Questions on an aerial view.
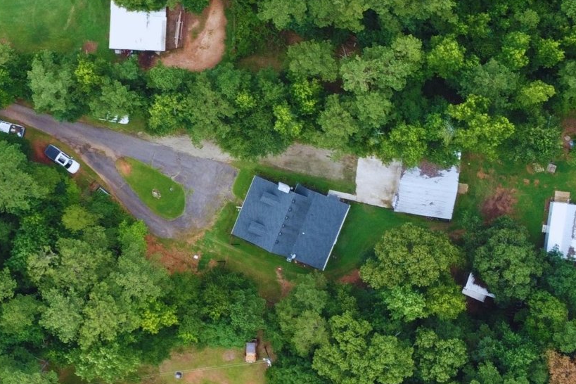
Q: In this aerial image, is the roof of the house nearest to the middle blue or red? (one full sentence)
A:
The roof of the house nearest to the middle looks blue in the image.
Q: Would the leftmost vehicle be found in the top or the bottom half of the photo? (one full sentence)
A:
You can find the leftmost vehicle in the top half.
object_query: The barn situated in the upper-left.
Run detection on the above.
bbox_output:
[109,1,167,52]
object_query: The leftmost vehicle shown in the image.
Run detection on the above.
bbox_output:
[0,118,24,138]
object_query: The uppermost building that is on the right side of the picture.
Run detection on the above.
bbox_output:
[395,151,462,219]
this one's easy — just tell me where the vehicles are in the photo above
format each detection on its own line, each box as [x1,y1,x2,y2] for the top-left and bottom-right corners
[0,118,24,138]
[244,333,258,364]
[43,143,79,174]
